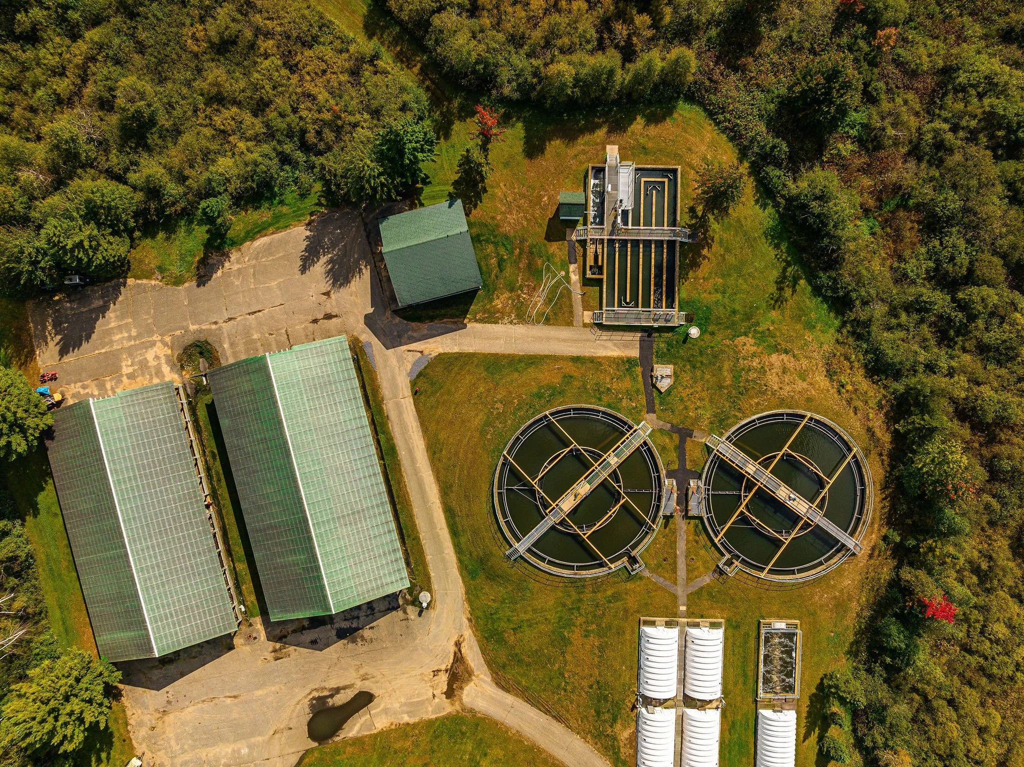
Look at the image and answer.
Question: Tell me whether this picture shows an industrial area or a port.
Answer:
industrial area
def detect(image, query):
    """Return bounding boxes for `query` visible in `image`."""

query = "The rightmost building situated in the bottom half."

[207,335,410,622]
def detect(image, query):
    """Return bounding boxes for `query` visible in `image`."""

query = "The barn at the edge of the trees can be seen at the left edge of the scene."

[42,381,248,666]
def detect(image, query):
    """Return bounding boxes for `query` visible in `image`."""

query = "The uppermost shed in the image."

[559,192,586,222]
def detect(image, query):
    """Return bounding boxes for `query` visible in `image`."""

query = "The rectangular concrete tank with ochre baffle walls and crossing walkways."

[574,145,697,330]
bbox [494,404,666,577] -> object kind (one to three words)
storage tank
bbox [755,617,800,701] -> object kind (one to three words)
storage tank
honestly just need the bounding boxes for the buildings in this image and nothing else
[559,192,586,222]
[207,335,410,622]
[42,381,248,666]
[378,199,482,307]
